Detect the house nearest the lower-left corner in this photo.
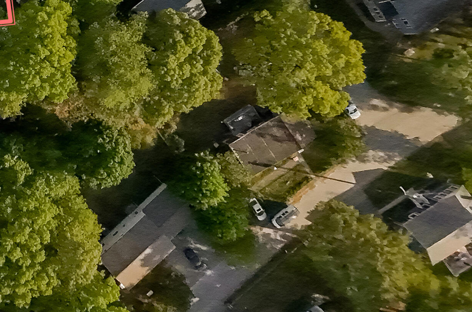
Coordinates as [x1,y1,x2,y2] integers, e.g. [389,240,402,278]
[99,196,189,289]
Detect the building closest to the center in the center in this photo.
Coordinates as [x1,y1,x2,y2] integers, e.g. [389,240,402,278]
[222,105,317,174]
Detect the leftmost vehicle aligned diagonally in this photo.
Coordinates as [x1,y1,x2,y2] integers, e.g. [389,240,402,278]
[182,245,202,268]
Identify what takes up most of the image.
trees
